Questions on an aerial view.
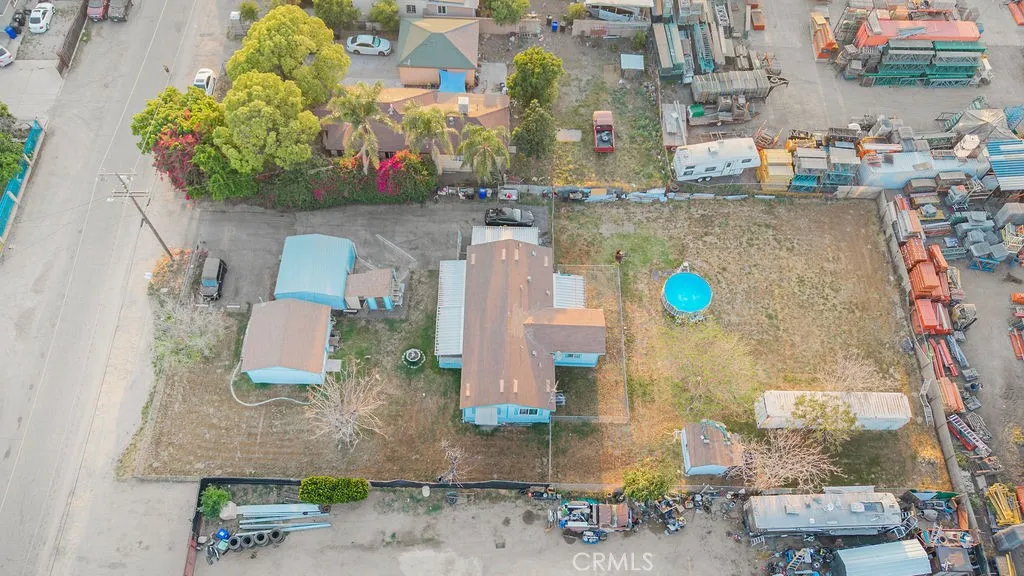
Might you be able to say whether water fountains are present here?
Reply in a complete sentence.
Yes, the frame does contain a water fountain.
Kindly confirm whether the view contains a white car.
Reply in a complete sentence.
Yes, there's a white car here.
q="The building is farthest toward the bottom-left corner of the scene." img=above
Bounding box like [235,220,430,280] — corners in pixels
[242,293,339,382]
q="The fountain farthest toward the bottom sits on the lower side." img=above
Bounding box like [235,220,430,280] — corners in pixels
[400,349,428,375]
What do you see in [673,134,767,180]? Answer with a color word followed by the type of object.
white trailer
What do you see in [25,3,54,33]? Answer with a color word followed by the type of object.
white car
